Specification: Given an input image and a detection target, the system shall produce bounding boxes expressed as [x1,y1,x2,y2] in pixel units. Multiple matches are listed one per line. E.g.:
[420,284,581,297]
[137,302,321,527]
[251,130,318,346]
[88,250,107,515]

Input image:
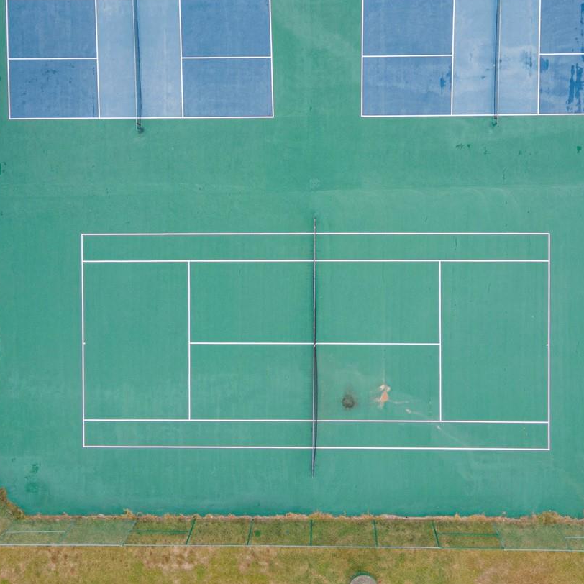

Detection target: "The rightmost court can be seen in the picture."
[362,0,584,117]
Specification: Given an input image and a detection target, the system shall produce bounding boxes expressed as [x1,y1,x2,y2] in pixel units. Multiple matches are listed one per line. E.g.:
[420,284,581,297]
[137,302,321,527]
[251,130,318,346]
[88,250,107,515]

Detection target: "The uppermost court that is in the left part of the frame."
[6,0,274,119]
